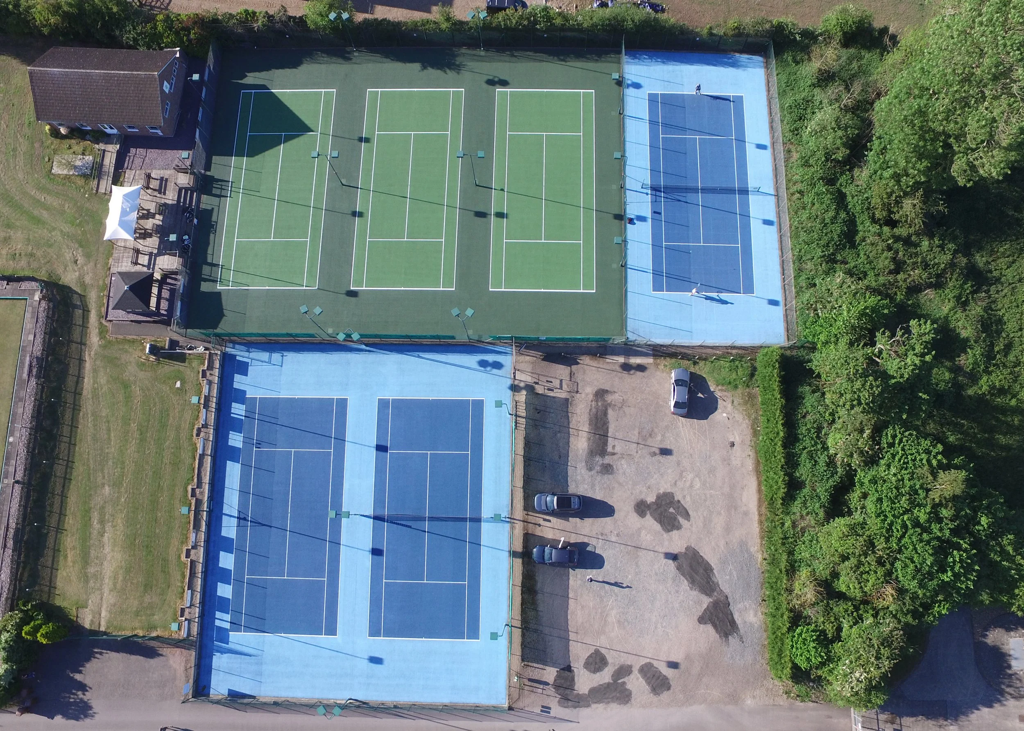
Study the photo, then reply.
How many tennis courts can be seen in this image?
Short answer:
6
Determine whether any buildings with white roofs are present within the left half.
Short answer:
No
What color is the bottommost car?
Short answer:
blue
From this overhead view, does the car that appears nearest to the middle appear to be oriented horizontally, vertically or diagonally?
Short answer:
horizontally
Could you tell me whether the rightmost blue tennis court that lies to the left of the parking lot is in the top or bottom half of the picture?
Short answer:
bottom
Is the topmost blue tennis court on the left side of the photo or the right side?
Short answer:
right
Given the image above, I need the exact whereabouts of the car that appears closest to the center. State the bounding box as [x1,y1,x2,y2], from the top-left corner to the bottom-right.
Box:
[533,491,582,514]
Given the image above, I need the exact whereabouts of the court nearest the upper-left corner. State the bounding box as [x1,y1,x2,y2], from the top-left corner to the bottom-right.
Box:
[218,90,336,288]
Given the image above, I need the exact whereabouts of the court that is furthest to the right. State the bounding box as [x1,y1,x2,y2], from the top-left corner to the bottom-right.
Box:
[648,92,755,294]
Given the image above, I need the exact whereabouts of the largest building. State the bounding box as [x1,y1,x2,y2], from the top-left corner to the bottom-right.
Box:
[28,45,185,136]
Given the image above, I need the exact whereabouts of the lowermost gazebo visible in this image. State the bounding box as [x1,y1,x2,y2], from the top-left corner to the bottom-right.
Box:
[111,271,161,314]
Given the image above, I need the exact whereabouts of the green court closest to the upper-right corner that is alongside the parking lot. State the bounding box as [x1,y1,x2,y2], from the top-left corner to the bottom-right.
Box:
[490,89,595,291]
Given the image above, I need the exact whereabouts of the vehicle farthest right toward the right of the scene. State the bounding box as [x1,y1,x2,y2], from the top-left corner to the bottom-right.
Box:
[669,370,699,416]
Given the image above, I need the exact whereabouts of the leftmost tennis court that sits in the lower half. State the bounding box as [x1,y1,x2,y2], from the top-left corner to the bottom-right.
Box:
[229,396,349,637]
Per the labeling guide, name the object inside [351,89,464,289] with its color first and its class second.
green tennis court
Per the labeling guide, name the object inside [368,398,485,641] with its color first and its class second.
blue tennis court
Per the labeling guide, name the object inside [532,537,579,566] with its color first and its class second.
blue car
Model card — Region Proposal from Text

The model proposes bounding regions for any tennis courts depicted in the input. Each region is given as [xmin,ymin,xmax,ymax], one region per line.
[648,92,755,294]
[218,90,336,288]
[351,89,464,289]
[229,396,349,637]
[490,89,595,291]
[368,398,485,641]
